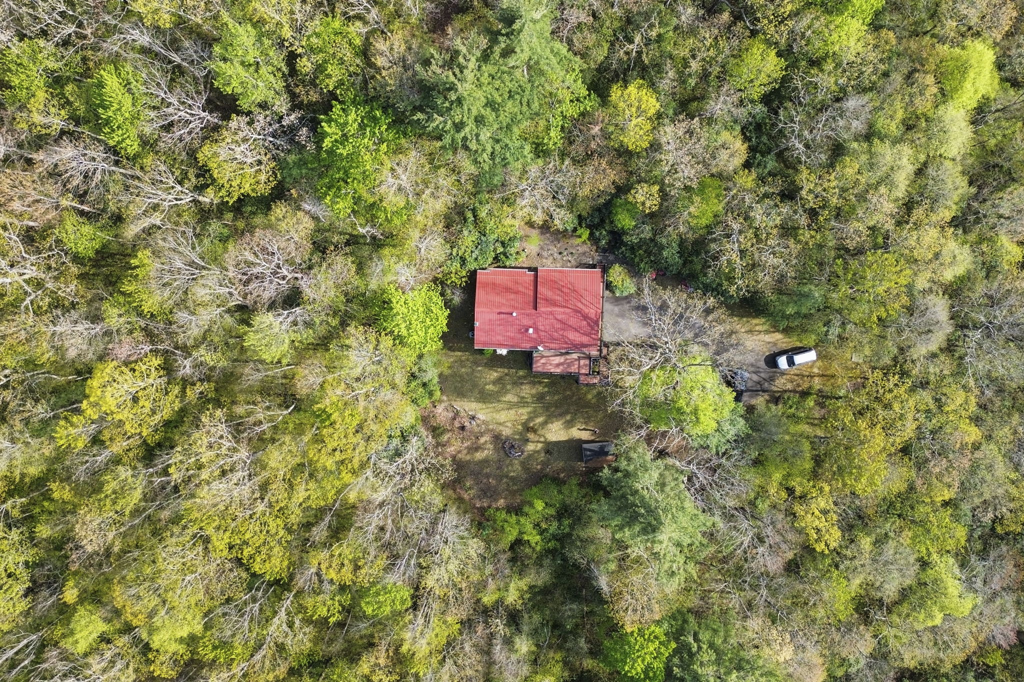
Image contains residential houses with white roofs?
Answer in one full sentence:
No, the picture doesn't show any residential house with a white roof.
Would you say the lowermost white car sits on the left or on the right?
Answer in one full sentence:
You can find the lowermost white car on the right side of the picture.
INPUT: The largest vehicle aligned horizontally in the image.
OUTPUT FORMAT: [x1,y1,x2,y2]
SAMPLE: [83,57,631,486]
[775,349,819,370]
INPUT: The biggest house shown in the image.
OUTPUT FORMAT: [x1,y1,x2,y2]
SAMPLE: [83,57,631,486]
[473,267,602,353]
